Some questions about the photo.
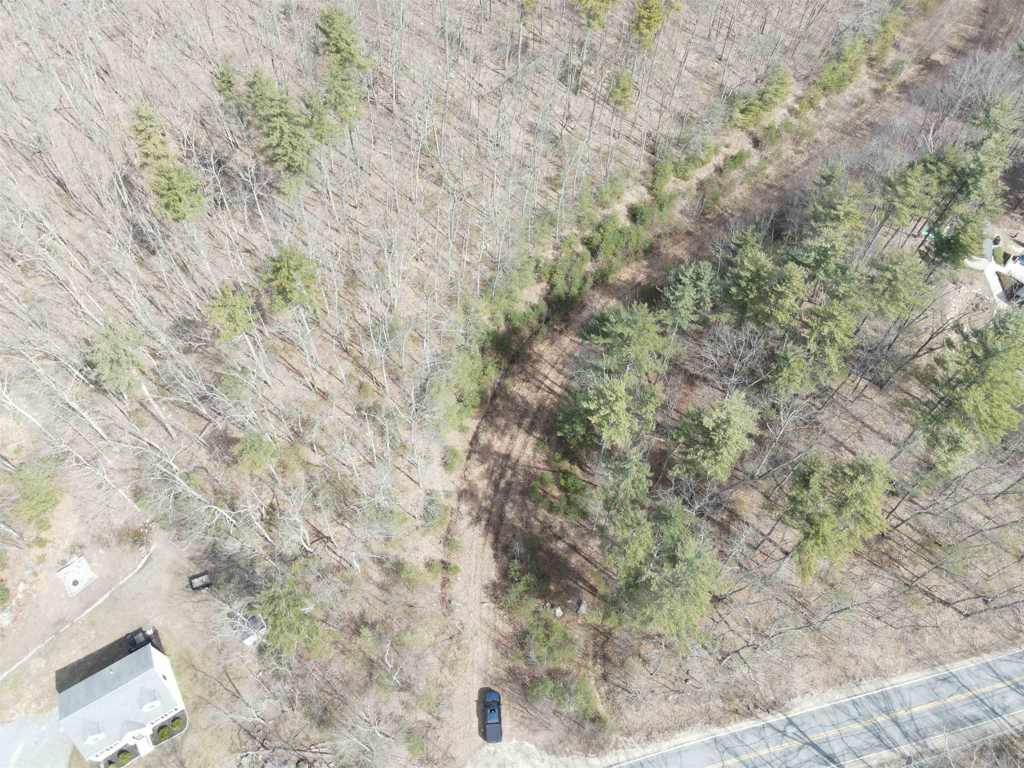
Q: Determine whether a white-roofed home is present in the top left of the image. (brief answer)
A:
No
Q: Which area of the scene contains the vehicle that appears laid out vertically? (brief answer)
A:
bottom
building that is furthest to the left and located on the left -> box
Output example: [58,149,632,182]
[53,630,186,761]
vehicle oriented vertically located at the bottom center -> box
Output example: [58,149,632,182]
[484,691,504,743]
